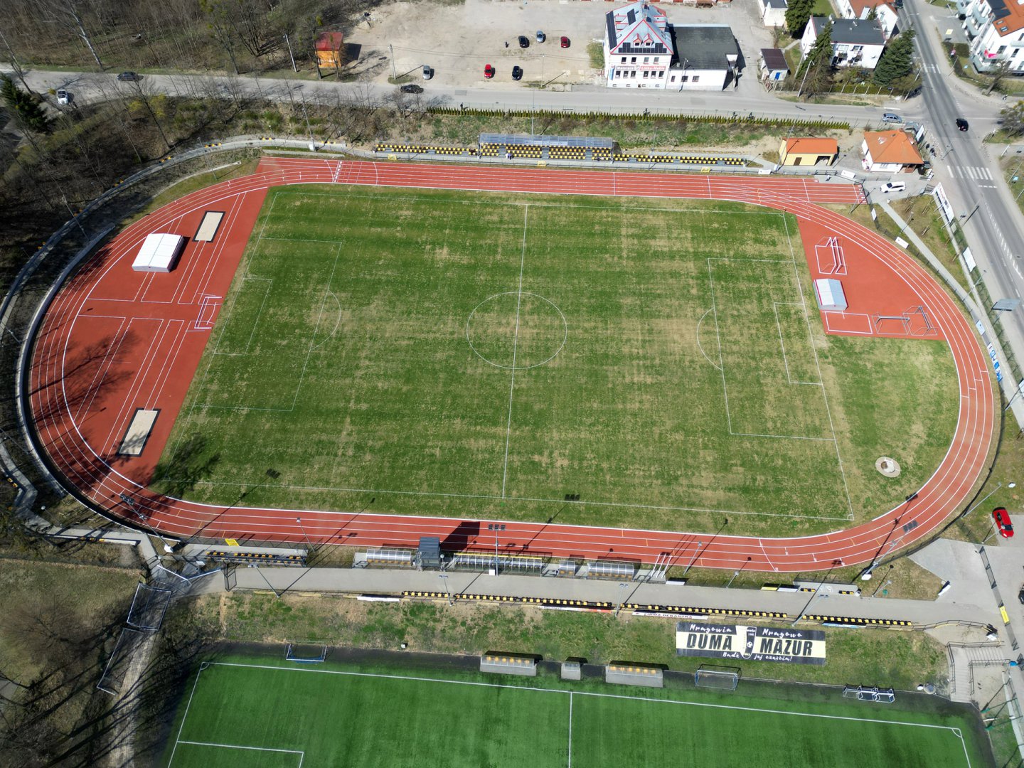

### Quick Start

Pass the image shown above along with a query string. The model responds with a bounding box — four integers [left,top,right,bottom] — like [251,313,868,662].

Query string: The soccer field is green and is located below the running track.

[160,655,975,768]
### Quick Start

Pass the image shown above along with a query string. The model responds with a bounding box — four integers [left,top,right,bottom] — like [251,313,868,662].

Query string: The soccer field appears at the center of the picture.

[150,183,960,538]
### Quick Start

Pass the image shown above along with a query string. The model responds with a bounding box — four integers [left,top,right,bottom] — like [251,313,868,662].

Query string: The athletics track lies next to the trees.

[32,161,992,571]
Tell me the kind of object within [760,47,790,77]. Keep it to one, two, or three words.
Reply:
shed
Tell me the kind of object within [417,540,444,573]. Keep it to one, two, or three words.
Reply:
building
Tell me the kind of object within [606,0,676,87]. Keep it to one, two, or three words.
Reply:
building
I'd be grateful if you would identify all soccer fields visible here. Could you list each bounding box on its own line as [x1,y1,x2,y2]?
[150,183,960,538]
[160,655,975,768]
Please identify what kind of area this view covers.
sports ground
